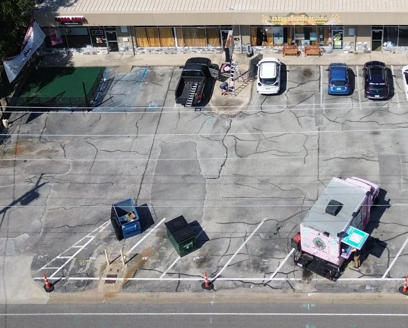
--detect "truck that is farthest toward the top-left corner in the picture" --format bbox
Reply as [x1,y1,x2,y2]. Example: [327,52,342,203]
[173,54,212,106]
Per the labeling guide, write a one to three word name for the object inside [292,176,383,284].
truck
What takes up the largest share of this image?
paved ground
